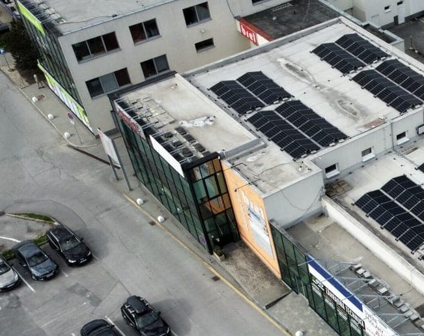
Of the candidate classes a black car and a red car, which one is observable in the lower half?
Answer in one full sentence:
The feature located in the lower half is a black car.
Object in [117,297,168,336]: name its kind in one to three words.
car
